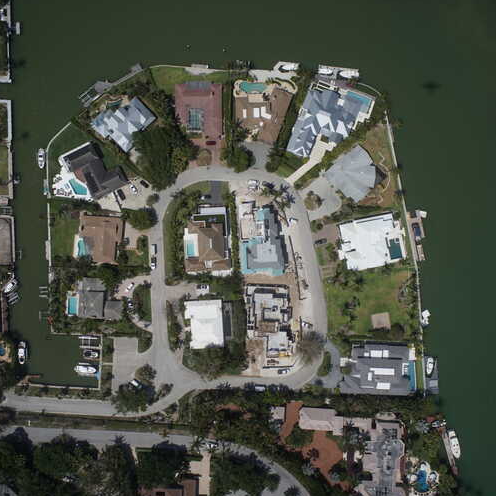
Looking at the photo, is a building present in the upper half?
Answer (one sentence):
Yes, a building is visible in the upper half.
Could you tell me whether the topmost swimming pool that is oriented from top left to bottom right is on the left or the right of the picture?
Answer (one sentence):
You can find the topmost swimming pool that is oriented from top left to bottom right on the right side of the picture.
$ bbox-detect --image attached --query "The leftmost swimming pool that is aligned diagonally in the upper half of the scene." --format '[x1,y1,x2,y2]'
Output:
[69,177,88,195]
